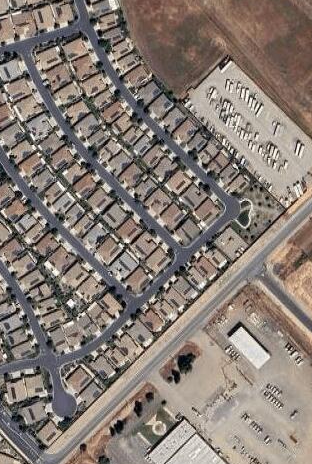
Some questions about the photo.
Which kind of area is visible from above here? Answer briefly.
residential area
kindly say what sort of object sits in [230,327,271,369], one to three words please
building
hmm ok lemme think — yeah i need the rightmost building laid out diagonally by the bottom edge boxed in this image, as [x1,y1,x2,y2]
[149,420,196,464]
